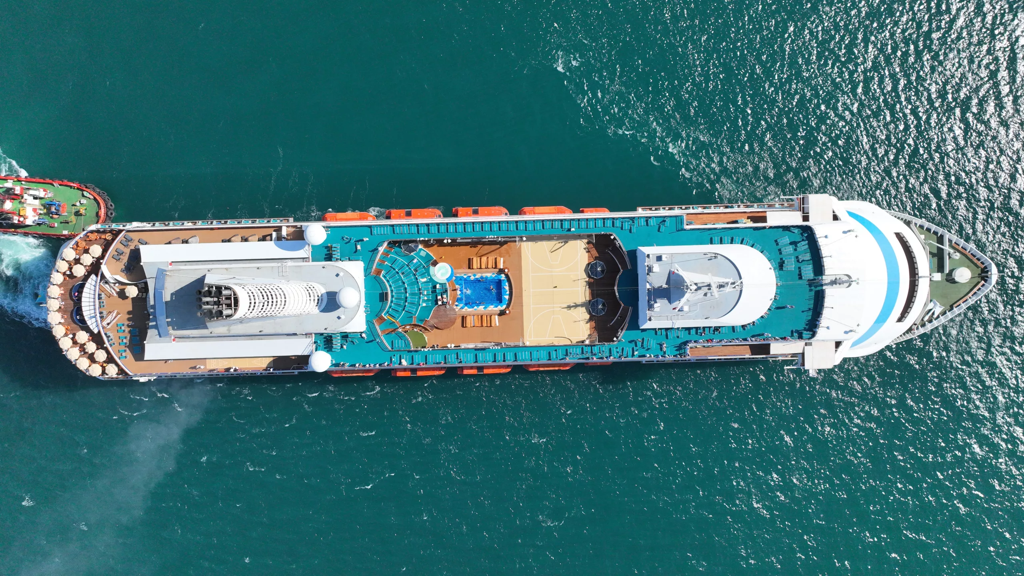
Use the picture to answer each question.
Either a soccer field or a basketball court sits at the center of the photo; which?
basketball court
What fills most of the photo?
water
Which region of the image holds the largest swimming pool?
center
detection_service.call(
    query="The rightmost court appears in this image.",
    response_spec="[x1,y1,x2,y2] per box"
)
[521,240,590,344]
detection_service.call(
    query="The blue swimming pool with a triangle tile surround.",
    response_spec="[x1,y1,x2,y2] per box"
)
[451,268,515,316]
